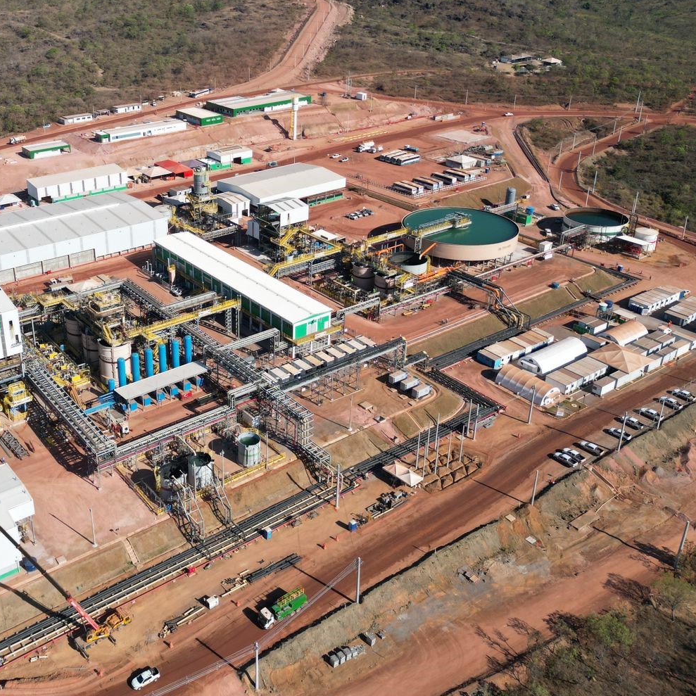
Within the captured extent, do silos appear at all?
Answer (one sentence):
Yes, a silo appears in the view.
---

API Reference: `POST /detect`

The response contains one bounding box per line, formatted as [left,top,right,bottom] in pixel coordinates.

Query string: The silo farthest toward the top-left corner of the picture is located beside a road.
[181,166,211,216]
